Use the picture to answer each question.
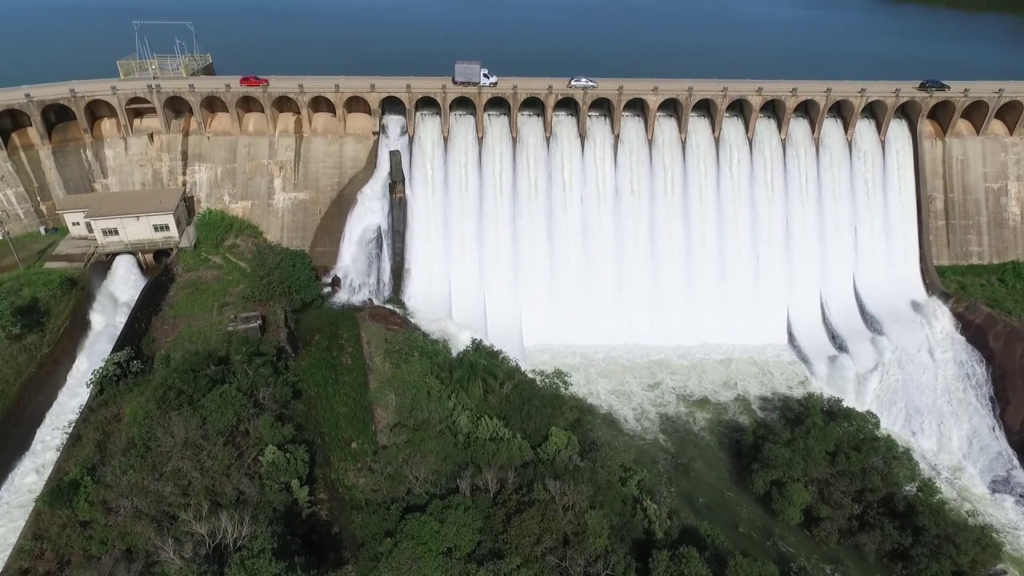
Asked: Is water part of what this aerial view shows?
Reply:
Yes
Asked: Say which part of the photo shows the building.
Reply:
left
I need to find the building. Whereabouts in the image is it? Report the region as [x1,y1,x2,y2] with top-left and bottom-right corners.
[47,187,199,281]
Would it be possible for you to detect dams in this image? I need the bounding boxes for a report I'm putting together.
[0,73,1024,334]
